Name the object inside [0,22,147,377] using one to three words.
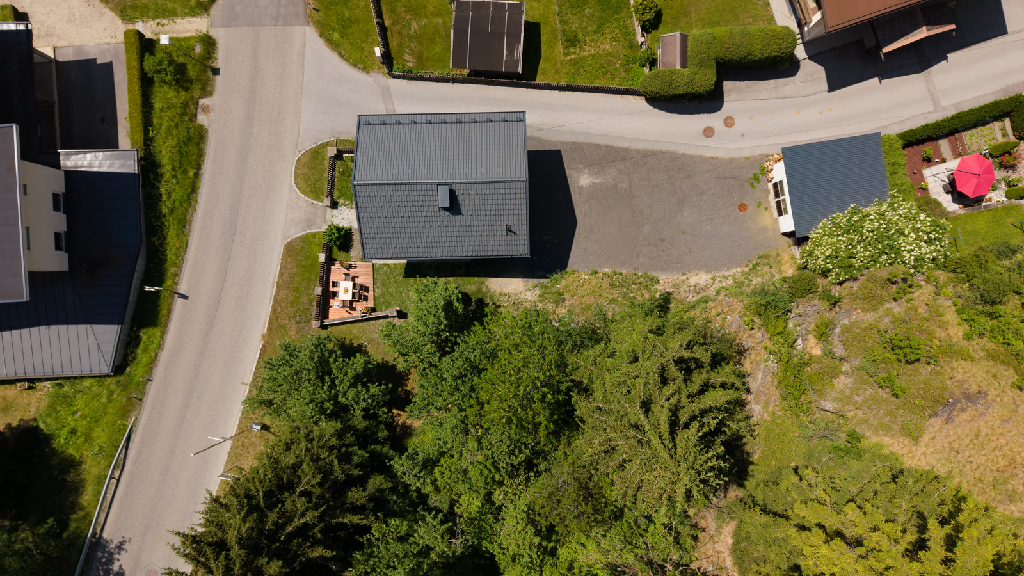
house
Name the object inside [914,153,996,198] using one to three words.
umbrella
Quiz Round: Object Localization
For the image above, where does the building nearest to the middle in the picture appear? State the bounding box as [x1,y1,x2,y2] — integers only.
[349,109,530,262]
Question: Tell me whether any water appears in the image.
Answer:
No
